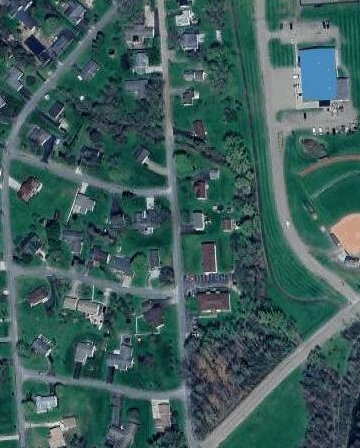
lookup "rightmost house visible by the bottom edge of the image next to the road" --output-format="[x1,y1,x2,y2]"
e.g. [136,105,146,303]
[151,400,174,431]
